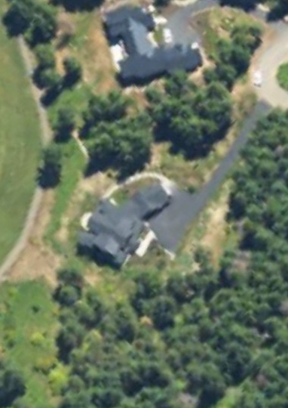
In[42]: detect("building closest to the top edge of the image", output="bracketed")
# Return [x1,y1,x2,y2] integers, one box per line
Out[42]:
[105,0,203,83]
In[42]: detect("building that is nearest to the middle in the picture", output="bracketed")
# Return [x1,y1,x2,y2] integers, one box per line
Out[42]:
[76,185,170,265]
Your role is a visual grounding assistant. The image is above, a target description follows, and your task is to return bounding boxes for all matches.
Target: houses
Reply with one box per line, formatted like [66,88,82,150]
[76,185,170,265]
[105,0,203,83]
